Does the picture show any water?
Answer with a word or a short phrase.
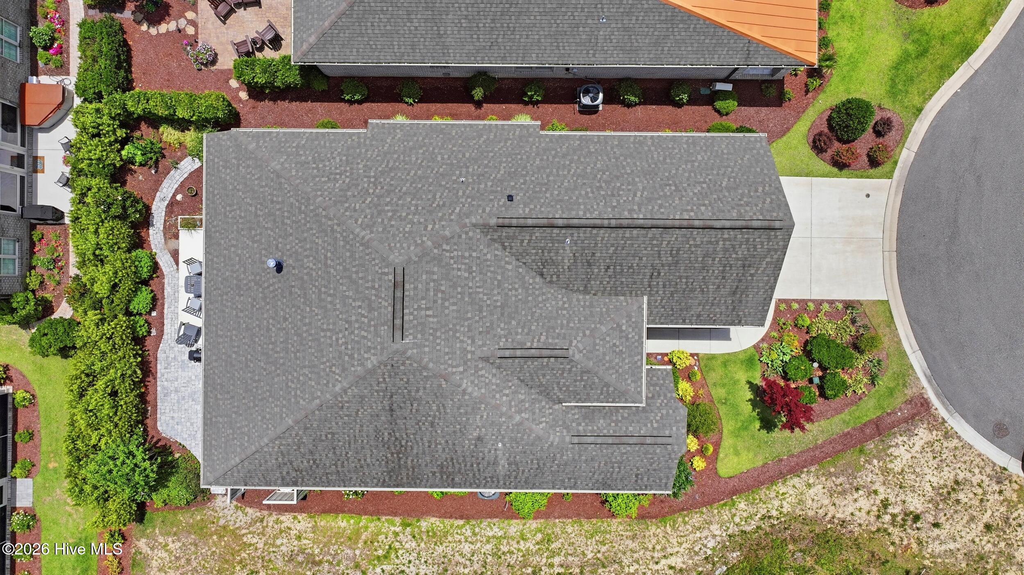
No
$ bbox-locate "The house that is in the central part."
[200,119,792,494]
